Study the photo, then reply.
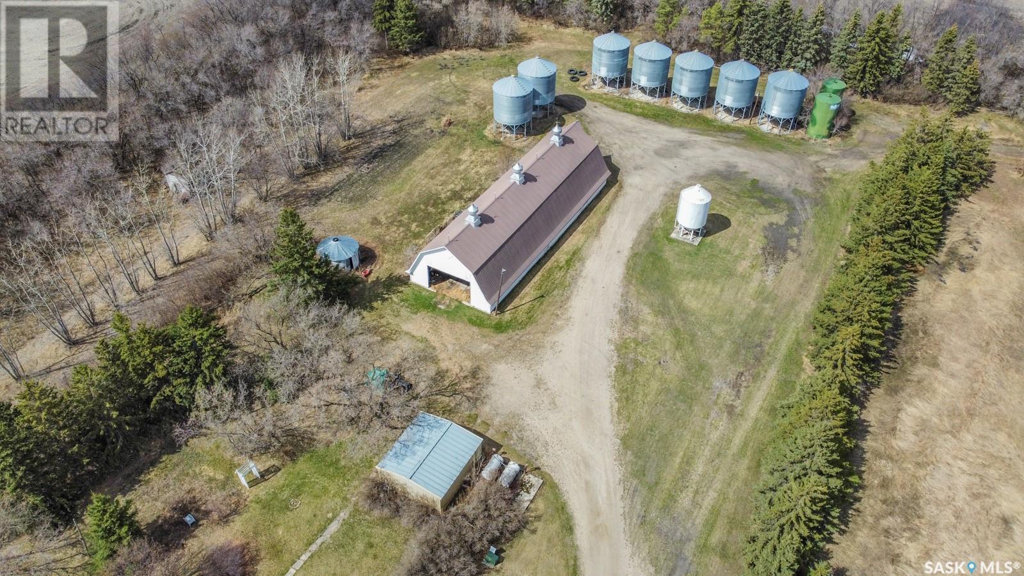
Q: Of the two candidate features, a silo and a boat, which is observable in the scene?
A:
silo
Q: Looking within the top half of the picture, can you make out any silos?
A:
Yes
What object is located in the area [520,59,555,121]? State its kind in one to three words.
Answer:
silo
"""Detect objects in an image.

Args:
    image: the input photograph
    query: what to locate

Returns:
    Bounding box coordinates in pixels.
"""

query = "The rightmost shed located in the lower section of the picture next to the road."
[376,411,483,515]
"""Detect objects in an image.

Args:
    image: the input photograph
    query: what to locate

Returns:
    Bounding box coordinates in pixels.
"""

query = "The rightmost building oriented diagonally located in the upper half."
[403,118,614,316]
